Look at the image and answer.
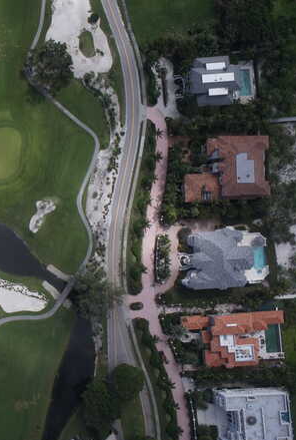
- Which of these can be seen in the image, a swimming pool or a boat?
swimming pool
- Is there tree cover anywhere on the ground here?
Yes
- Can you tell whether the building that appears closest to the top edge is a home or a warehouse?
home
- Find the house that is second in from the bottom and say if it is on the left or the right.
right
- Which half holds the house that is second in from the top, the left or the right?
right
